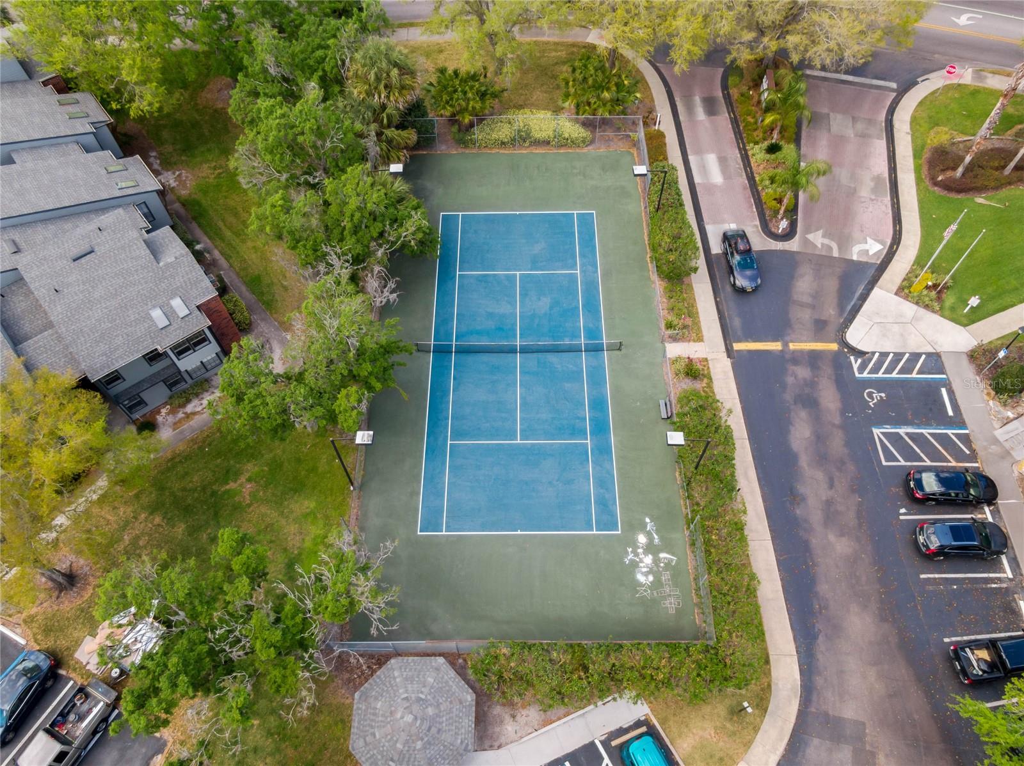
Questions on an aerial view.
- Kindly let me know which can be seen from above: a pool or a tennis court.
tennis court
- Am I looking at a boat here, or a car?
car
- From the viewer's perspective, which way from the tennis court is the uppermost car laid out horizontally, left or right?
to the right of it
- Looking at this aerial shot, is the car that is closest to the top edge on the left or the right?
right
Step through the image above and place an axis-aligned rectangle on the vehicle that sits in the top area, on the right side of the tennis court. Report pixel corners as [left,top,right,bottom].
[722,231,763,294]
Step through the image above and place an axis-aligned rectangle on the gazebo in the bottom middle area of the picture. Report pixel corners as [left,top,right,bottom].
[352,657,477,766]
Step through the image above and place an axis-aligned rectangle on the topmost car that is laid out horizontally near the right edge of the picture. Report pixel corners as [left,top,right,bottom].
[902,465,1001,508]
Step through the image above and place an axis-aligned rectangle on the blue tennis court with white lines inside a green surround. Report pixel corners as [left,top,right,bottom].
[347,150,702,643]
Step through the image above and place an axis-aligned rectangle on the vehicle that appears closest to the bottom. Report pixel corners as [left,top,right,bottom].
[626,731,676,766]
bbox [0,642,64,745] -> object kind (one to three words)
car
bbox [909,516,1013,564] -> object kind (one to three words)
car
